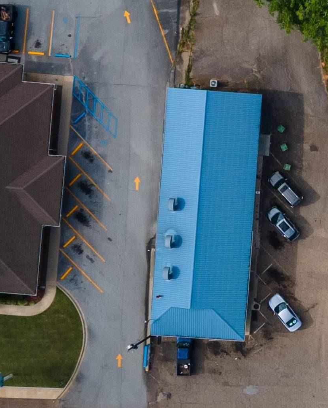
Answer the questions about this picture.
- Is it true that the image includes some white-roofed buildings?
No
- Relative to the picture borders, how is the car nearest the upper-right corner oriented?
at an angle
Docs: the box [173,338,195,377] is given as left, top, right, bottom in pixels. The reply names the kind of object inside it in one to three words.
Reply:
truck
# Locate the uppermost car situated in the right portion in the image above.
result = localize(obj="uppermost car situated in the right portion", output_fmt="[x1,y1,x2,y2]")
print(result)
[269,171,305,208]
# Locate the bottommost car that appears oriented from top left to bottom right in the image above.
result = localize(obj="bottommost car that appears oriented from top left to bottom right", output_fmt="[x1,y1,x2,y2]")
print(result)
[268,293,303,332]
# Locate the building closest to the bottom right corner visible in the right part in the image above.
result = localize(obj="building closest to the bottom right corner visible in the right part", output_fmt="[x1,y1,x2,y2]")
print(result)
[149,87,267,342]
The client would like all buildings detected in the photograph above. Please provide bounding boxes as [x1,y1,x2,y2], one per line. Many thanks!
[0,56,70,297]
[149,87,267,342]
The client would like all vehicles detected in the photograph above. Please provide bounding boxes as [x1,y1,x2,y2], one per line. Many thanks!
[268,293,303,332]
[267,206,301,242]
[269,171,305,208]
[173,338,195,377]
[0,3,17,55]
